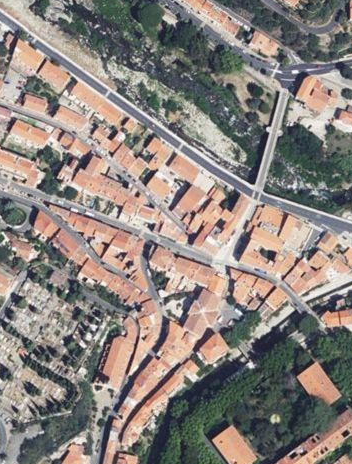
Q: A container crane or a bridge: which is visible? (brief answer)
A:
bridge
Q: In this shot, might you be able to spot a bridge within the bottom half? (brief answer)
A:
No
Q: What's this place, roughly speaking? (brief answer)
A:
residential area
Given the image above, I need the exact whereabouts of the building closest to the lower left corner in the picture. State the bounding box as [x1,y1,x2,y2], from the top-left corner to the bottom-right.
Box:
[59,437,91,464]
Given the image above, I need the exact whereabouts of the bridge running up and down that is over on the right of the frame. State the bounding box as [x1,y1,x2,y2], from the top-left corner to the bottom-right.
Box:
[253,87,289,197]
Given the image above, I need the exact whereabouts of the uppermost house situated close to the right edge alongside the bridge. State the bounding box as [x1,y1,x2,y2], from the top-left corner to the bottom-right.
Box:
[292,75,336,118]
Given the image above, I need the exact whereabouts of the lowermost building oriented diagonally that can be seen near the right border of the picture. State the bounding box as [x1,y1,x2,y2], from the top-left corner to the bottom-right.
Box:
[275,407,352,464]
